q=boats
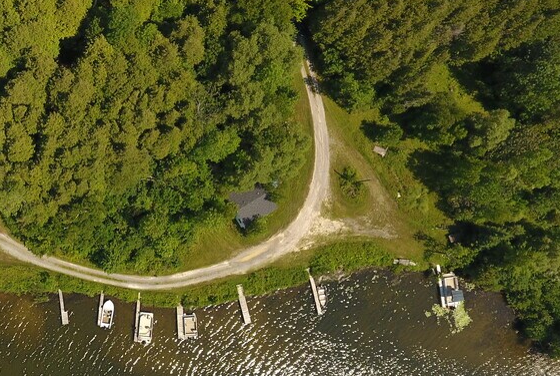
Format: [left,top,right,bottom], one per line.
[136,311,154,345]
[317,286,326,307]
[183,313,197,340]
[101,299,113,331]
[442,274,467,311]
